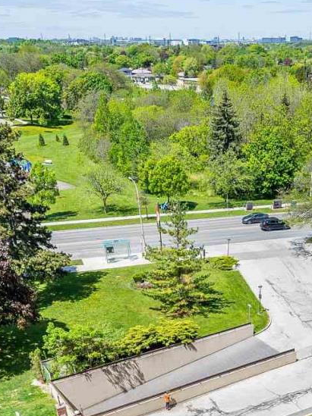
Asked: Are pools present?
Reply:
No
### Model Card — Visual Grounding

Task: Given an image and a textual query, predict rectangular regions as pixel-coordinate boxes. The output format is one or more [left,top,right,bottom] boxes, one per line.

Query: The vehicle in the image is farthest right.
[260,217,291,231]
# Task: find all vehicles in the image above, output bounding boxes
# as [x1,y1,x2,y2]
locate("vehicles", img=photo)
[260,217,291,231]
[242,211,270,224]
